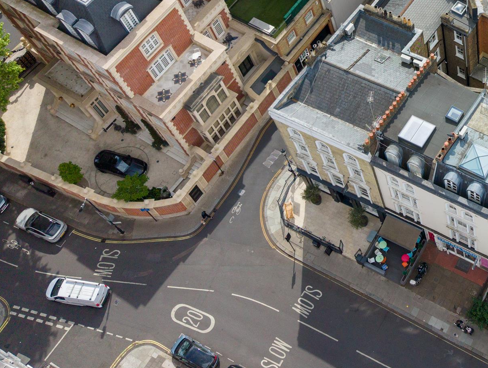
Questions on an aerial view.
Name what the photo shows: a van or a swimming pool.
van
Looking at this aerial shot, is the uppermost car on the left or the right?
left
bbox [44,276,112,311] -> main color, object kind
white van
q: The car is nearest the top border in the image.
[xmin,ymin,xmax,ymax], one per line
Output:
[92,148,149,177]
